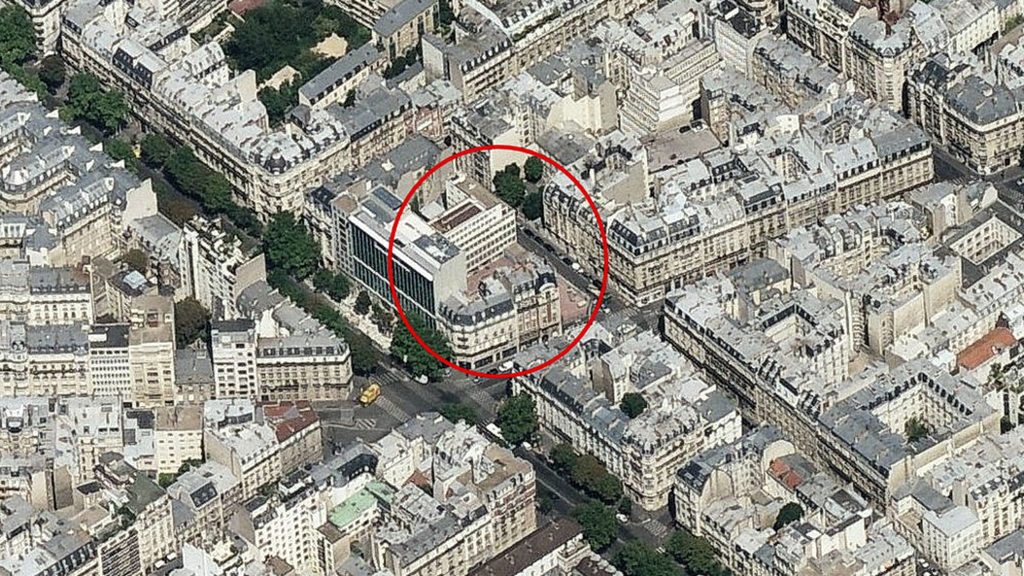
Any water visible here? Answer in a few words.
No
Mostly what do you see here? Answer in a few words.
buildings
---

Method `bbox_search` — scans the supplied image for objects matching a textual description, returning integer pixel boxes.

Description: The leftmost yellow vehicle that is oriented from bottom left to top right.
[359,380,380,405]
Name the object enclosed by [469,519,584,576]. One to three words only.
building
